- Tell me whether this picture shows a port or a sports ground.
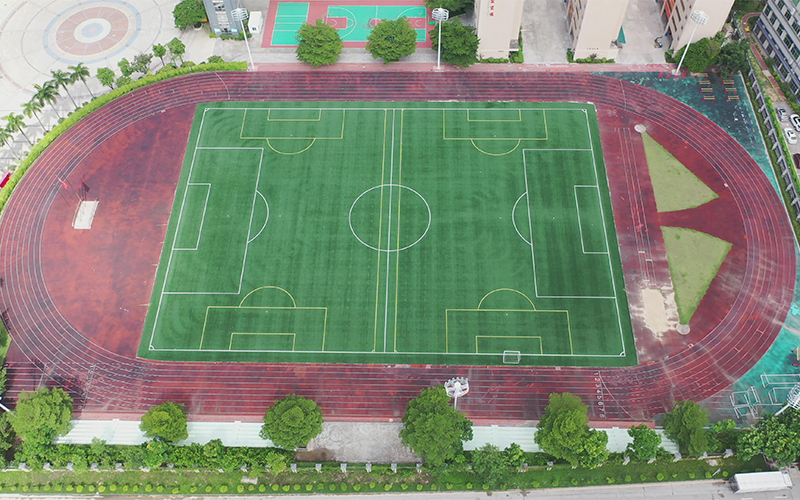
sports ground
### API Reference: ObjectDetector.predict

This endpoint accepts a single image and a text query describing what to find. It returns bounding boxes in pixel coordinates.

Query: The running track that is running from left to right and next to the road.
[0,73,796,421]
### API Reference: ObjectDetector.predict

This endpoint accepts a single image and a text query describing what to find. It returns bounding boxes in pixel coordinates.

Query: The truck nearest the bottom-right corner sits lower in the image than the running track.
[727,473,793,495]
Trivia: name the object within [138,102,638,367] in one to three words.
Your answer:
soccer field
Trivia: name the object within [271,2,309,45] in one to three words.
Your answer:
sports court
